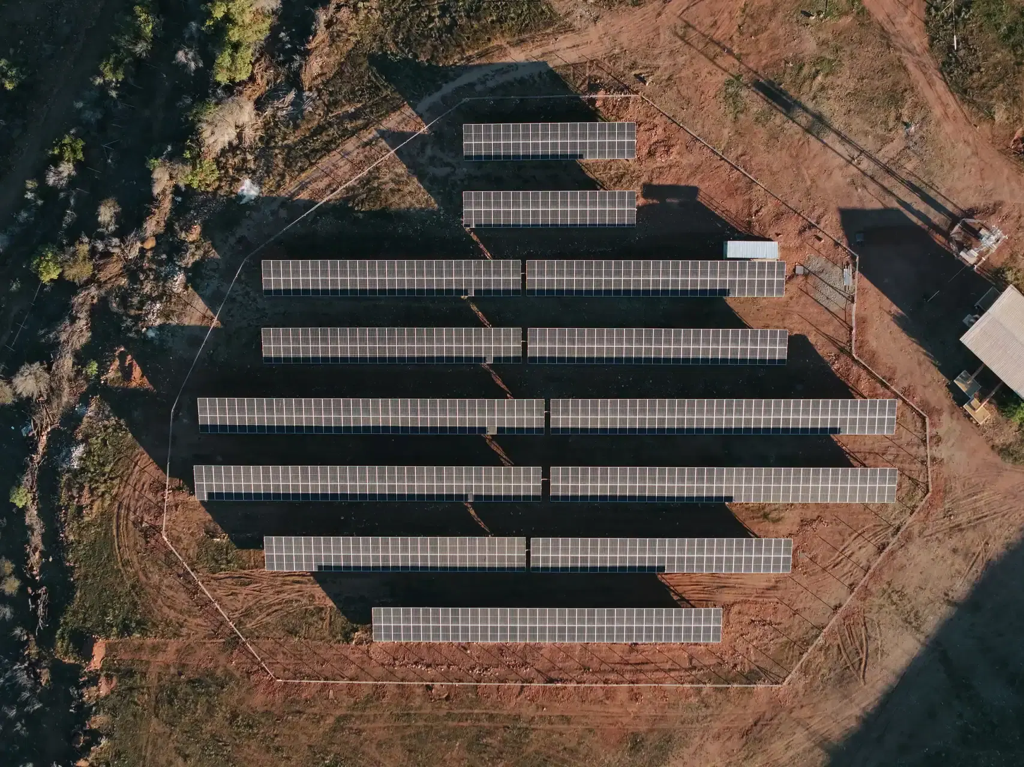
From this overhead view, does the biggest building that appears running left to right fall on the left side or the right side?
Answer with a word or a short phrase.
right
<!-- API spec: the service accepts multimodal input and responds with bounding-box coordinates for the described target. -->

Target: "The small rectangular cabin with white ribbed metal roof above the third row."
[720,241,778,261]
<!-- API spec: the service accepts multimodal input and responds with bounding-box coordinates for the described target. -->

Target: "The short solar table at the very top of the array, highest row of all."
[463,122,636,160]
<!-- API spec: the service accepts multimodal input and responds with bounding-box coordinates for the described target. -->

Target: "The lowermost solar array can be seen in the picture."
[372,608,722,643]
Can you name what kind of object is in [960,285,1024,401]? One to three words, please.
building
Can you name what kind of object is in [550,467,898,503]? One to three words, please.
solar array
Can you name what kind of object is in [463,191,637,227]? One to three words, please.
solar array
